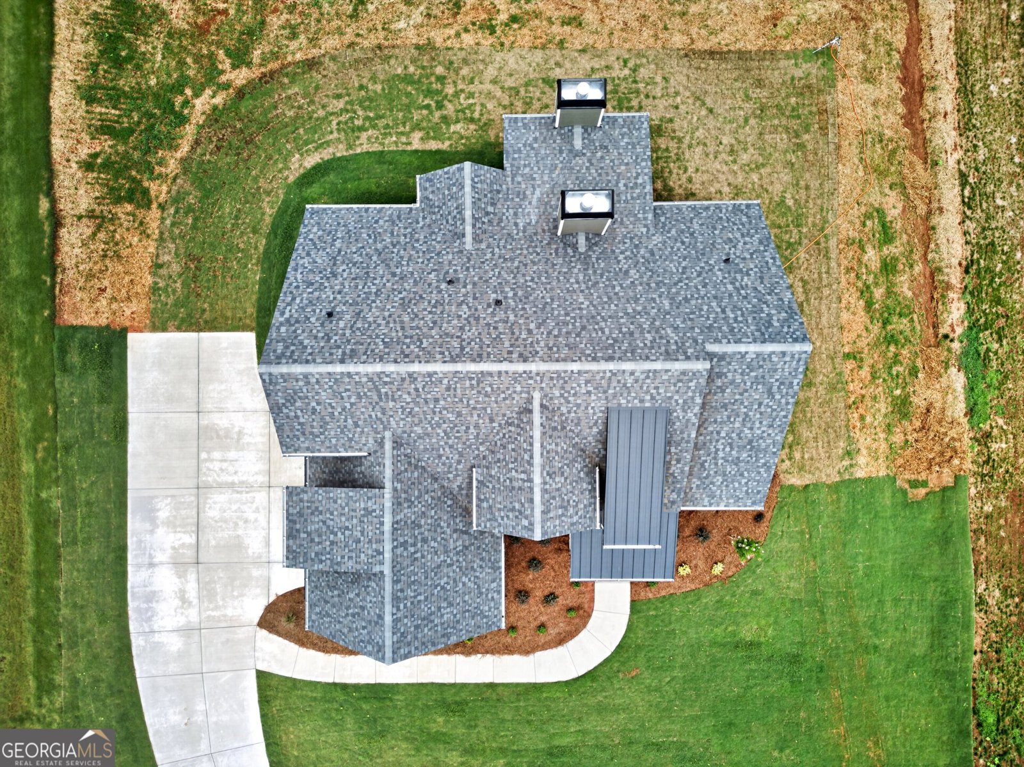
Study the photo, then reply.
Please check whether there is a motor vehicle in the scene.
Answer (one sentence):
No, the photo shows no motor vehicle.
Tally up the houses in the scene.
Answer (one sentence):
The picture shows just 1 house.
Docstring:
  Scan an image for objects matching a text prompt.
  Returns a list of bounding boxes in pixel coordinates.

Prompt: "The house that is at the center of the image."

[257,78,810,665]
